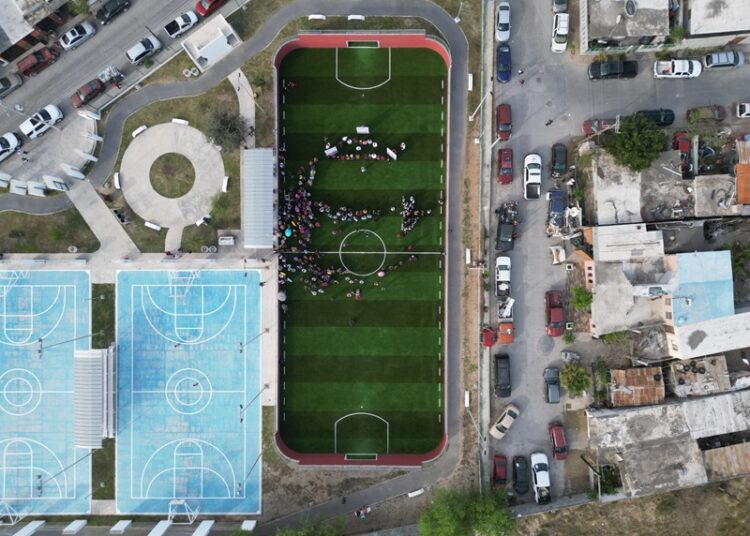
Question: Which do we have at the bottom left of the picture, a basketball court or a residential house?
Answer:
basketball court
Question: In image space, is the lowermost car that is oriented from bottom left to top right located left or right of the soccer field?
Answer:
on the right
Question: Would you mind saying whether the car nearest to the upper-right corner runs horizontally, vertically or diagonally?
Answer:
horizontally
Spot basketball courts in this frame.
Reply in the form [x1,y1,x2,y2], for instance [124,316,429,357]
[0,269,91,515]
[116,269,261,515]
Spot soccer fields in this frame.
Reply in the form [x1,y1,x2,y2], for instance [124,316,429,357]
[279,42,444,459]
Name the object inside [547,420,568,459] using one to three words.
car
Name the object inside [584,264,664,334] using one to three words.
house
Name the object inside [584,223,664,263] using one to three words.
house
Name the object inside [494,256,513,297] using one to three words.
vehicle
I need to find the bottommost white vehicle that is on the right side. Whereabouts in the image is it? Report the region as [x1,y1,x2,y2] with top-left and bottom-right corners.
[530,452,552,505]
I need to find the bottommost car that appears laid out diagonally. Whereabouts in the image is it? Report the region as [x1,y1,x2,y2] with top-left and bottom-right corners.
[488,401,521,440]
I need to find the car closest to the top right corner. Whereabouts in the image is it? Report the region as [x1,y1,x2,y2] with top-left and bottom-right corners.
[701,48,745,70]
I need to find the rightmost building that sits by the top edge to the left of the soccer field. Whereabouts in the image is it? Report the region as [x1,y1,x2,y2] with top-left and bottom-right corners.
[182,15,245,76]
